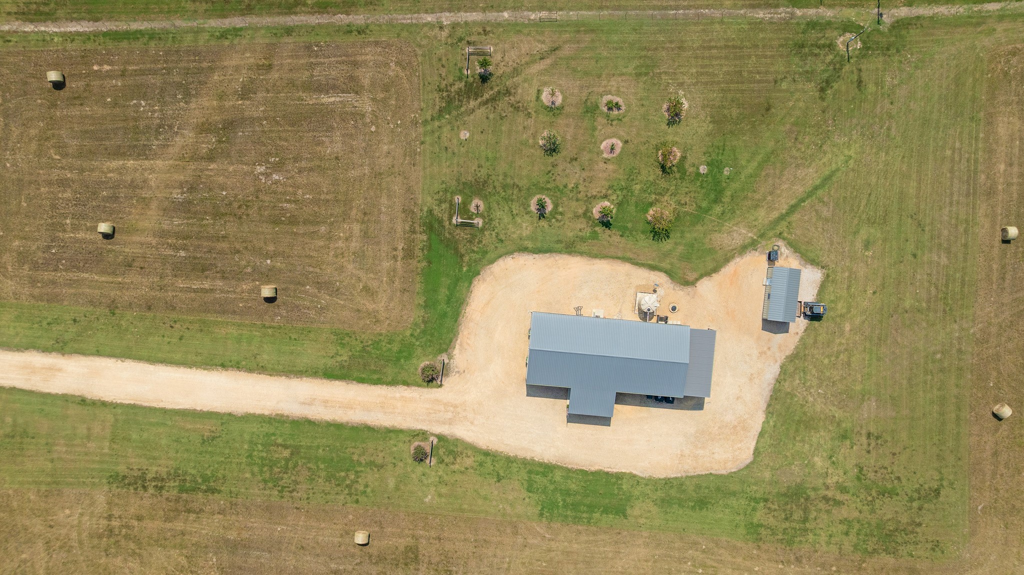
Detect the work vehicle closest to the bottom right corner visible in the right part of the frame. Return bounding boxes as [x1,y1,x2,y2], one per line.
[796,300,827,317]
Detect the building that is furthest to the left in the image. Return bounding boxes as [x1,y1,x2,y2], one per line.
[525,311,716,418]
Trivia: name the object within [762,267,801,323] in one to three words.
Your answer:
shed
